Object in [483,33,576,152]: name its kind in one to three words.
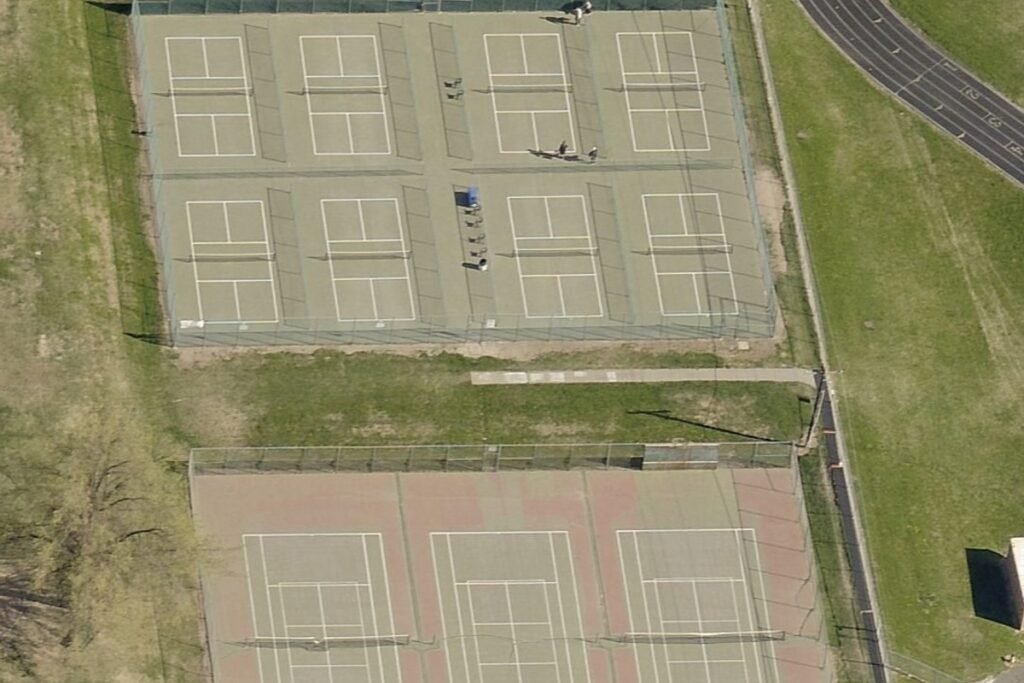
sports court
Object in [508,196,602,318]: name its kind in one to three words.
sports court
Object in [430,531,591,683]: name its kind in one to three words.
tennis court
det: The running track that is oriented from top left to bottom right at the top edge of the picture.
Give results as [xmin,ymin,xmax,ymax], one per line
[795,0,1024,188]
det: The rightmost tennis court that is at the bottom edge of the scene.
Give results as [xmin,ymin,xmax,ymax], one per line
[617,528,779,683]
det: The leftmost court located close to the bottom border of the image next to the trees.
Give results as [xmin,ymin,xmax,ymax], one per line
[242,533,402,683]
